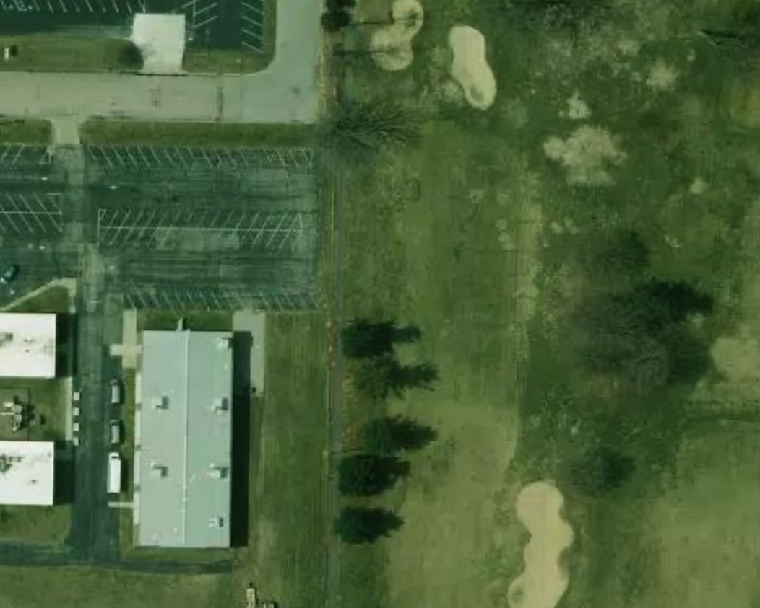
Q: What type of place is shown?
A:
golf course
